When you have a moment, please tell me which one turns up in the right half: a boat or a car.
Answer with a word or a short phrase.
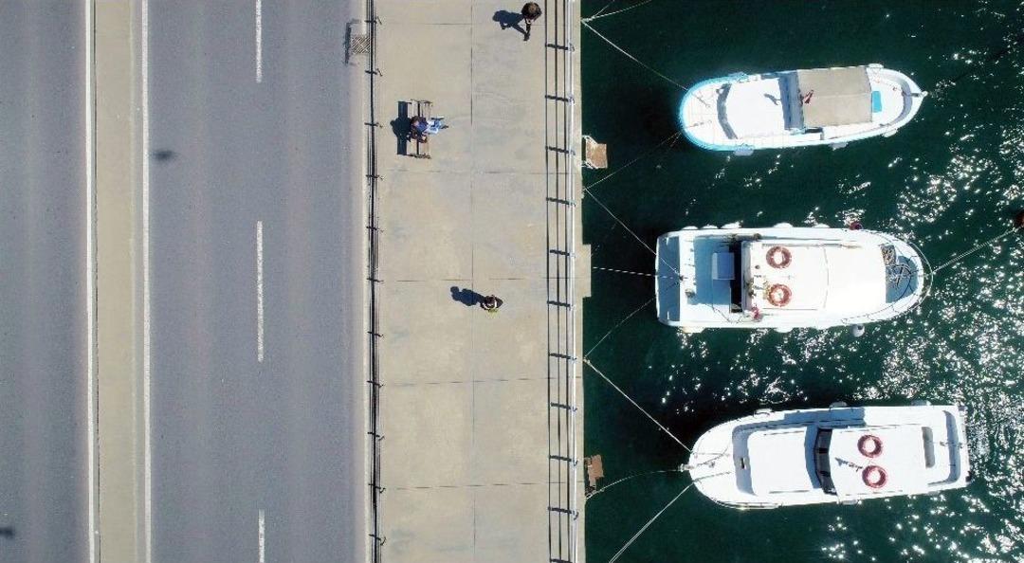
boat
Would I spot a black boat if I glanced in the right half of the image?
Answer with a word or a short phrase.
No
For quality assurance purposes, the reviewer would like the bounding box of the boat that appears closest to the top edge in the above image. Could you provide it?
[679,66,928,152]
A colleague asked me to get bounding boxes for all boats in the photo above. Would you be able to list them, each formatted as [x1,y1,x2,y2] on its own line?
[679,66,928,152]
[679,404,973,508]
[657,228,931,327]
